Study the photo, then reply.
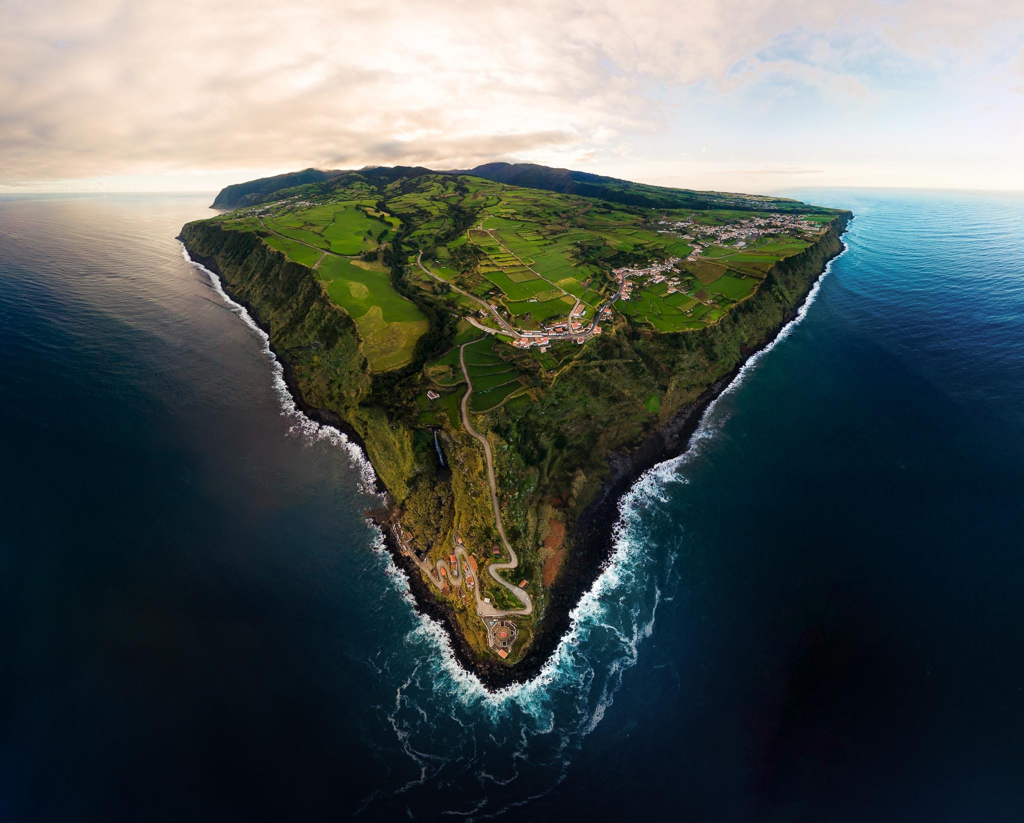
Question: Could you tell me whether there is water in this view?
Yes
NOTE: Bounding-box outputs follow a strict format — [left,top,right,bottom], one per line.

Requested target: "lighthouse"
[489,619,518,650]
